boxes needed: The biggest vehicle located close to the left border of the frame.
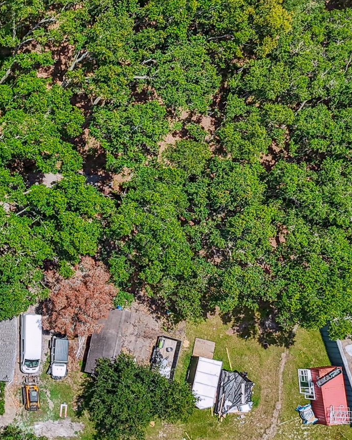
[17,313,42,373]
